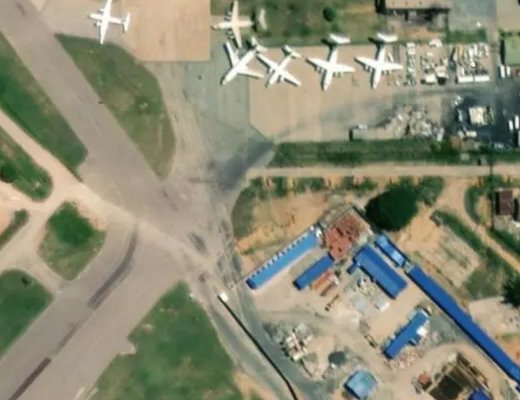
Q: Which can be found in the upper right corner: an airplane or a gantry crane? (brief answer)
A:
airplane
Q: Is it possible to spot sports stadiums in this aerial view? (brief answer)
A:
No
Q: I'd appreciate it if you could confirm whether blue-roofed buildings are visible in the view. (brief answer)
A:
Yes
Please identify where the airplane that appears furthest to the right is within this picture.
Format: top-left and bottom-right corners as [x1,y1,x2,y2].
[356,27,405,88]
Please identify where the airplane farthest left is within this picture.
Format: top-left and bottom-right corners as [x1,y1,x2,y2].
[88,0,131,43]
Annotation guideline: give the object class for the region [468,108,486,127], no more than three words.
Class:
shed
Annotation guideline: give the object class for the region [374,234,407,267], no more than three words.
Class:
building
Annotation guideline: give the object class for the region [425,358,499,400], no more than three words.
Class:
building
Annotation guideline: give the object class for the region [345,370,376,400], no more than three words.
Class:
shed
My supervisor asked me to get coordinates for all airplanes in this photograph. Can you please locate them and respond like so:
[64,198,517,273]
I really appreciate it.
[222,35,270,83]
[356,27,405,88]
[257,44,301,87]
[308,28,357,89]
[212,1,261,48]
[88,0,131,43]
